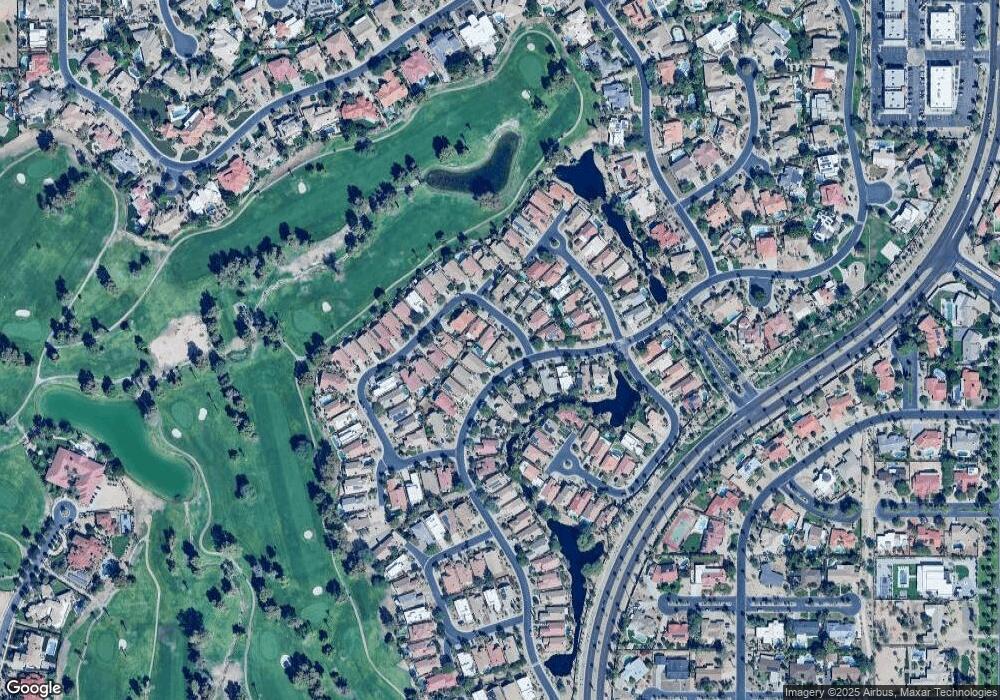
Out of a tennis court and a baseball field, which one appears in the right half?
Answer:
tennis court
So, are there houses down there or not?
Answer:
Yes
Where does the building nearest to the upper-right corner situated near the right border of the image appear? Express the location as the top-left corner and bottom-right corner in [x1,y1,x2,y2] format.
[930,11,956,43]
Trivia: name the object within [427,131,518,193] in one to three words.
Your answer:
pond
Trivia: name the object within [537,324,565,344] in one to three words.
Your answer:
house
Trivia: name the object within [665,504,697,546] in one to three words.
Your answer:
tennis court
